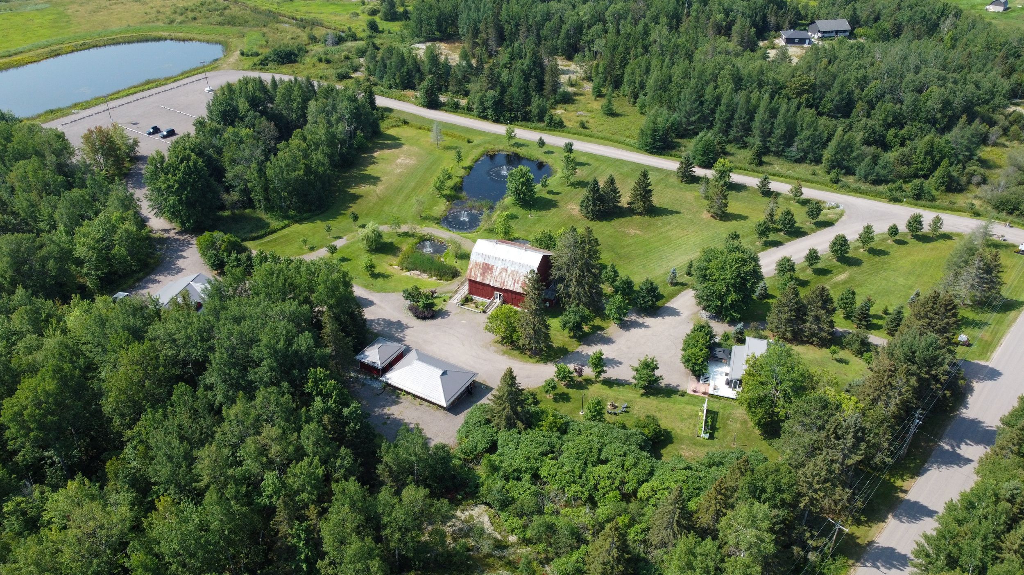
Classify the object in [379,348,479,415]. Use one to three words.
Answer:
shed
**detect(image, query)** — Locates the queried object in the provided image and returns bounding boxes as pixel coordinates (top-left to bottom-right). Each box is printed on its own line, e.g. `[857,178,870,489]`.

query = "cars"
[144,122,161,135]
[159,127,176,138]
